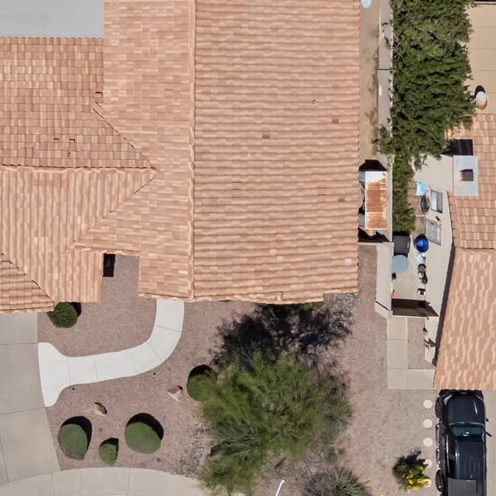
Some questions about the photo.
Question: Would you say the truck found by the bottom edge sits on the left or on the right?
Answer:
right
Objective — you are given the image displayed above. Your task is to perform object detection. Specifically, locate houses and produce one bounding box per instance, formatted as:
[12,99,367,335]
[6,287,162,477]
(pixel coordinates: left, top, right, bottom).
[420,1,496,392]
[0,0,362,311]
